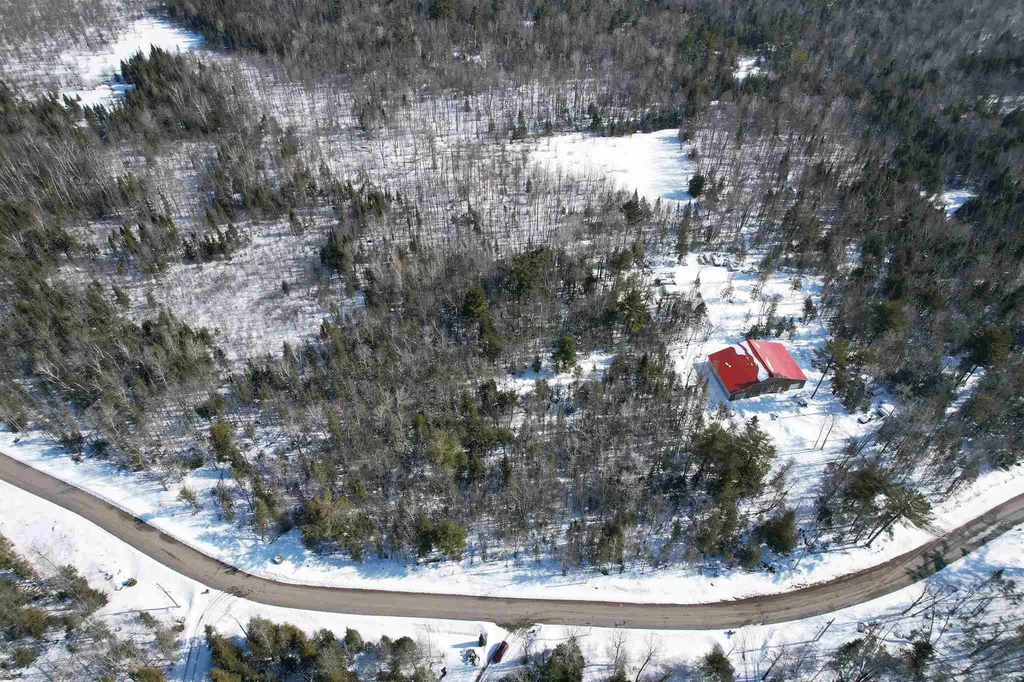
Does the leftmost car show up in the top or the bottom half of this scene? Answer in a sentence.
The leftmost car is in the bottom half of the image.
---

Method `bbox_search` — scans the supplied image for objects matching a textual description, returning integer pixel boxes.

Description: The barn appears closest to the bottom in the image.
[712,339,810,401]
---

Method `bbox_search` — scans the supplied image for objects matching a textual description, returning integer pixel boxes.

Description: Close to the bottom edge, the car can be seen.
[488,637,510,666]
